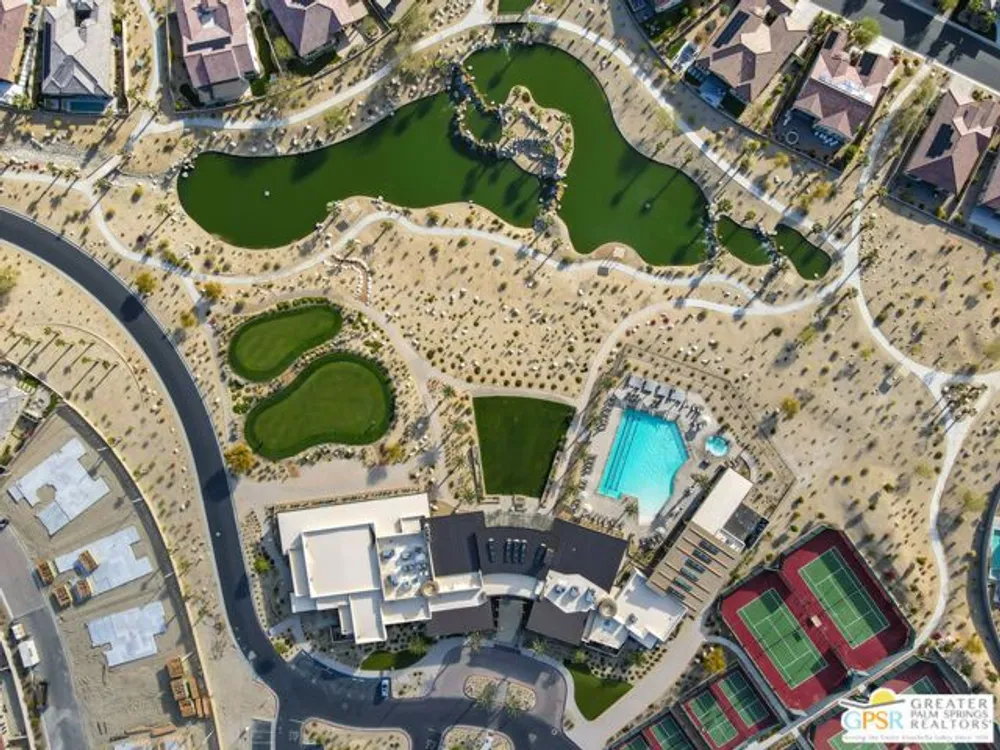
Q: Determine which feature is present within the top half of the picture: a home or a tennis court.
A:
home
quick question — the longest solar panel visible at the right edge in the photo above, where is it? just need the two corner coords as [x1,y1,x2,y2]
[928,124,958,157]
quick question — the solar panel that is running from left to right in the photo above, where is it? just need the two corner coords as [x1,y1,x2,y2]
[188,36,230,53]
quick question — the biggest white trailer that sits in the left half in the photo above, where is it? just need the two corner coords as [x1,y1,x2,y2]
[18,636,47,666]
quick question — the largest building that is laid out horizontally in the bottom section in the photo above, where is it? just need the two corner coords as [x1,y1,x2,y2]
[277,489,688,653]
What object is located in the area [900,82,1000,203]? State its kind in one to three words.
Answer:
house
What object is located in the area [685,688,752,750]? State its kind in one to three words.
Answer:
sports court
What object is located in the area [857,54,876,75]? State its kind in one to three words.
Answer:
solar panel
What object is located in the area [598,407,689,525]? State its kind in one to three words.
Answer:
swimming pool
